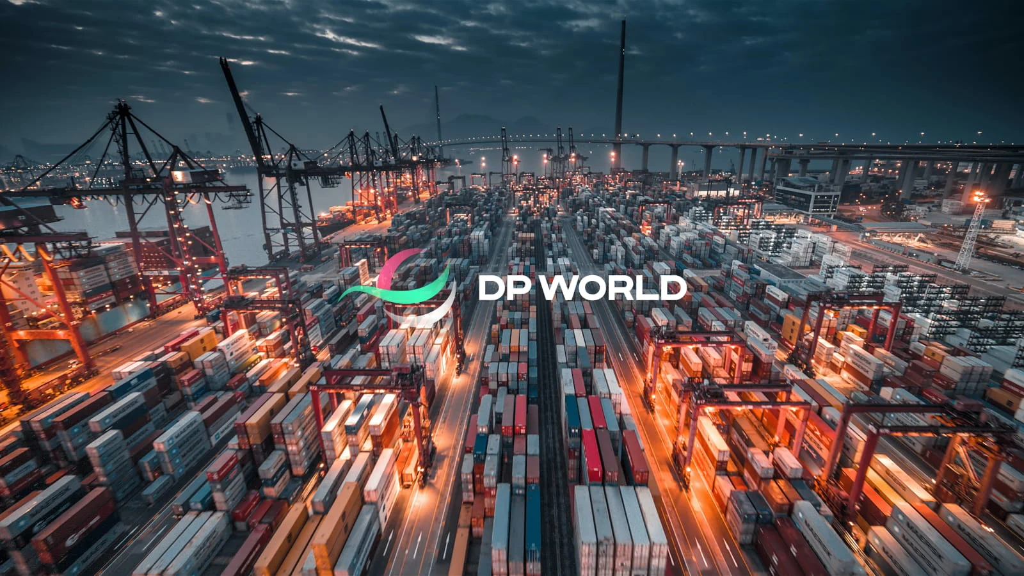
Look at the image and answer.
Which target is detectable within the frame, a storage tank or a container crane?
container crane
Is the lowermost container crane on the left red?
Yes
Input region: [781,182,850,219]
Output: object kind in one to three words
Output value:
building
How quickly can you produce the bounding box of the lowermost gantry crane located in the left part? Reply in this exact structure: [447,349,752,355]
[297,377,436,495]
